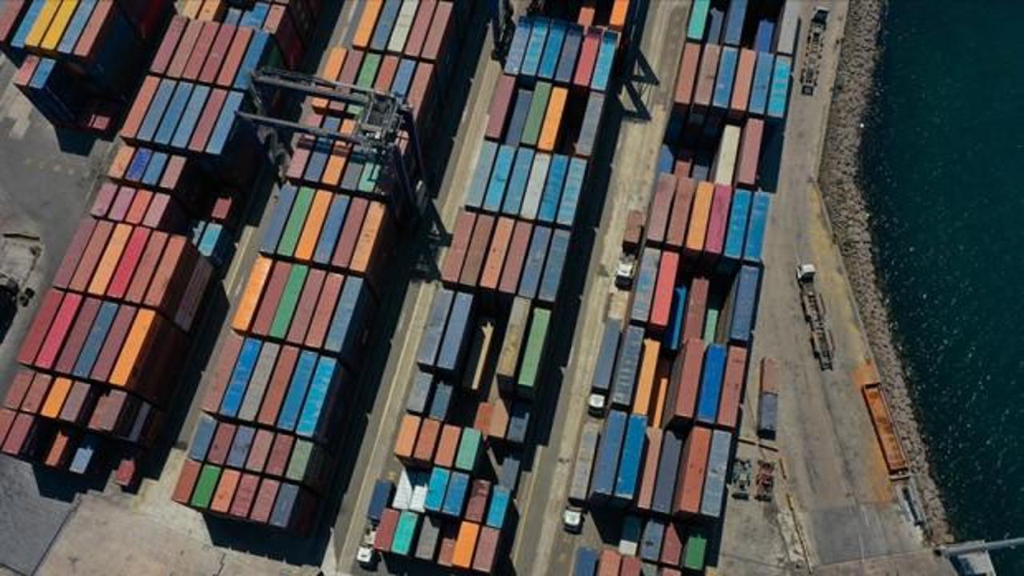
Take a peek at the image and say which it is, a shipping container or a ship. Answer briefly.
shipping container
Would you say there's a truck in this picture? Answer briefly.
Yes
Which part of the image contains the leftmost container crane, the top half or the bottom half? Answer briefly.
top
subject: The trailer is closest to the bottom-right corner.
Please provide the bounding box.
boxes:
[860,378,906,481]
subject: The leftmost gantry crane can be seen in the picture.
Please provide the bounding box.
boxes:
[234,62,438,225]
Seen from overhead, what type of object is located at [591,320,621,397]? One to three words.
shipping container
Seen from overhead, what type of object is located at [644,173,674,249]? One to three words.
shipping container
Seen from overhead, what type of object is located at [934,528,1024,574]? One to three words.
pier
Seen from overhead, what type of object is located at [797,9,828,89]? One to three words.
truck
